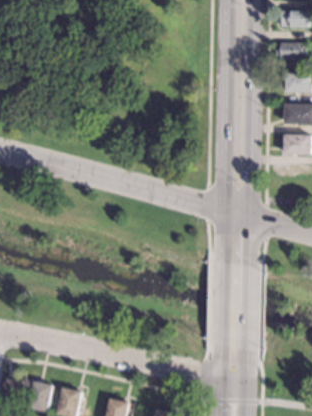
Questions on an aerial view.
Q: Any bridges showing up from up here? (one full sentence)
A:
Yes, this view includes a bridge.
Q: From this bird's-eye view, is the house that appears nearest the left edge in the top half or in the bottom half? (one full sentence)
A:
The house that appears nearest the left edge is in the bottom half of the image.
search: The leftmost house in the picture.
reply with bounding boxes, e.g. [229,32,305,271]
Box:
[31,382,55,412]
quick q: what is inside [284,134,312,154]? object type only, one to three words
house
